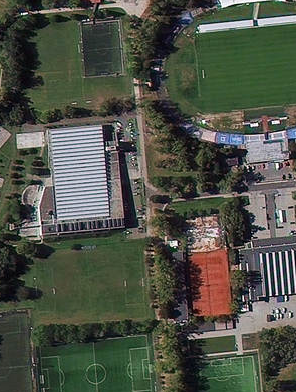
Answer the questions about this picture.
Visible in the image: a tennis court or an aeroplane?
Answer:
tennis court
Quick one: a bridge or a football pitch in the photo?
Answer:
football pitch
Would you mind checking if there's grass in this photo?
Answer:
Yes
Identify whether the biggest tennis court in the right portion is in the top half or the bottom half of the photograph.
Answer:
bottom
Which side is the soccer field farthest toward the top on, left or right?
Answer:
right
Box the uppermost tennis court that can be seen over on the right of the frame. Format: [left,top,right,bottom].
[189,249,235,317]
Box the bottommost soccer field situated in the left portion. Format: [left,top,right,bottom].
[39,333,156,392]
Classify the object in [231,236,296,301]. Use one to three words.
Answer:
building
